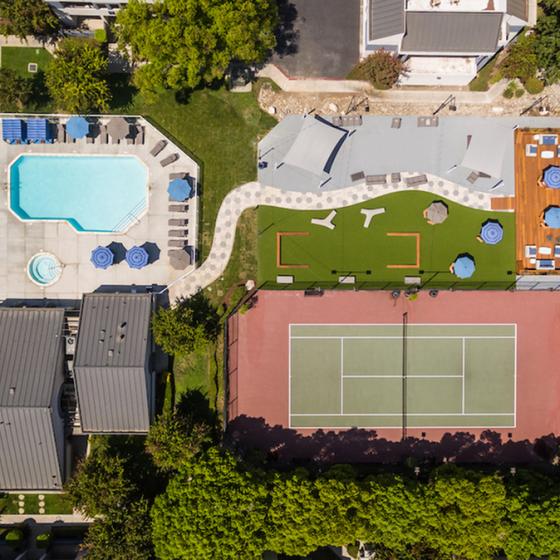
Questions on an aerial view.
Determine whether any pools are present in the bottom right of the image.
No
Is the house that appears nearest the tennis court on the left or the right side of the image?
left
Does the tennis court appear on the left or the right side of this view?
right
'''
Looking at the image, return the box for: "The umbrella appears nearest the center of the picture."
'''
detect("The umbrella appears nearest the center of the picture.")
[169,248,191,270]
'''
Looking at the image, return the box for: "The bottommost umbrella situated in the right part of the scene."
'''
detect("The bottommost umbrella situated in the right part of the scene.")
[452,255,475,278]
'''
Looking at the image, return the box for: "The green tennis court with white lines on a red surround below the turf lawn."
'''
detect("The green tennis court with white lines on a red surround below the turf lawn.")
[229,290,560,459]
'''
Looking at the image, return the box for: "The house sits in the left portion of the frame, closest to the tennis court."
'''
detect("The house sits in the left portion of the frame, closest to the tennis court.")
[73,293,153,433]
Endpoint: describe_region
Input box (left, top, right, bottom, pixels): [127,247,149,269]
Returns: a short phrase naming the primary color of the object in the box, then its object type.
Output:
blue umbrella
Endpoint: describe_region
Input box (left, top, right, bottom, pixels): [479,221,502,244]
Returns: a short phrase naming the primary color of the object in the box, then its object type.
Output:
blue umbrella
